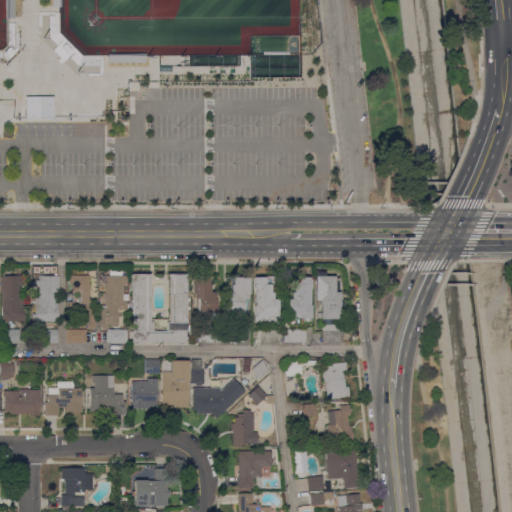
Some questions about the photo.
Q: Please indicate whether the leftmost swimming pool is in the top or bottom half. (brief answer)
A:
bottom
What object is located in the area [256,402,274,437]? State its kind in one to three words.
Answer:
swimming pool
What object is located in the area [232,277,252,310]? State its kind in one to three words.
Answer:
building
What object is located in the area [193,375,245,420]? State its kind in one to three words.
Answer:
house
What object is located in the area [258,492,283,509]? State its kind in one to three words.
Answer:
swimming pool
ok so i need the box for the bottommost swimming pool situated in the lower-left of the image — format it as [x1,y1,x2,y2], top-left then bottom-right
[90,475,112,505]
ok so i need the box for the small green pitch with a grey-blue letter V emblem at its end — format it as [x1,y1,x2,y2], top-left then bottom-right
[251,36,300,54]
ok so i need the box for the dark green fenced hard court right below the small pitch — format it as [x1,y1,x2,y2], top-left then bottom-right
[251,54,302,77]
